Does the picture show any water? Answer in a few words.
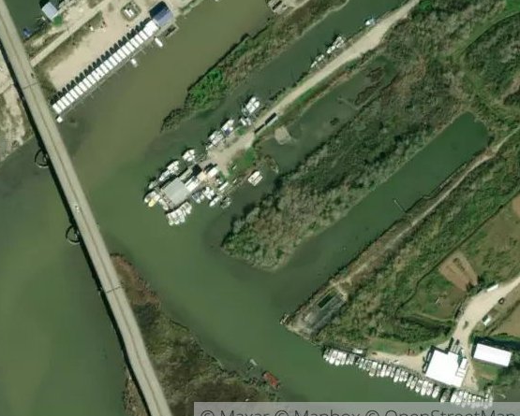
Yes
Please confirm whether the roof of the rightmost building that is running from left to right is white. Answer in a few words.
Yes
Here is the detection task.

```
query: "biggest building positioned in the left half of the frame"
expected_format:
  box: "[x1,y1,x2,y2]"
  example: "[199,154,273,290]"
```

[160,177,191,206]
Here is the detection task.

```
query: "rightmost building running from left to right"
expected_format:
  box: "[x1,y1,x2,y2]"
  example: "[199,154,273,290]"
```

[473,345,511,368]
